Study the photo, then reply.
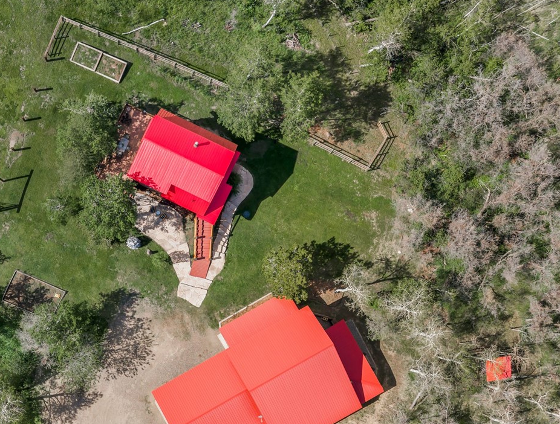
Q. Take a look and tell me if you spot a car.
No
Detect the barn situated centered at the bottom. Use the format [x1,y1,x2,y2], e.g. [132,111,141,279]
[152,294,384,424]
